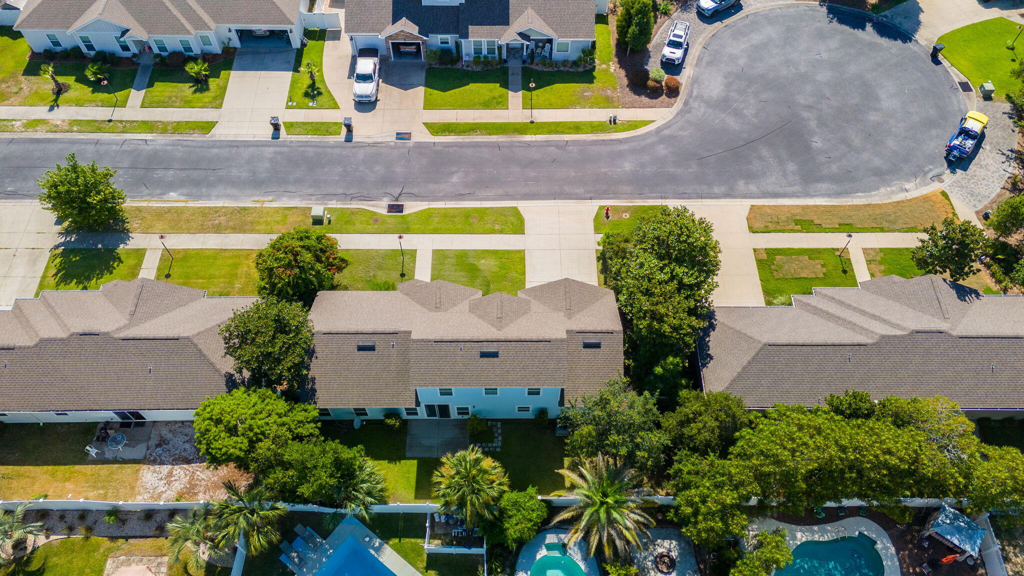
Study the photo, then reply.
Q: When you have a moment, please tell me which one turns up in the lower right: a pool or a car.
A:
pool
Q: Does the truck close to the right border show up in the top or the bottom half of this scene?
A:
top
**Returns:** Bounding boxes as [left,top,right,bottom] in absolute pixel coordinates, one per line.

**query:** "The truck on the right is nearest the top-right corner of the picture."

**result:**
[941,111,988,162]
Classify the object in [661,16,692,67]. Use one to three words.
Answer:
car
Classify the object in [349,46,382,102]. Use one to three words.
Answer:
truck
